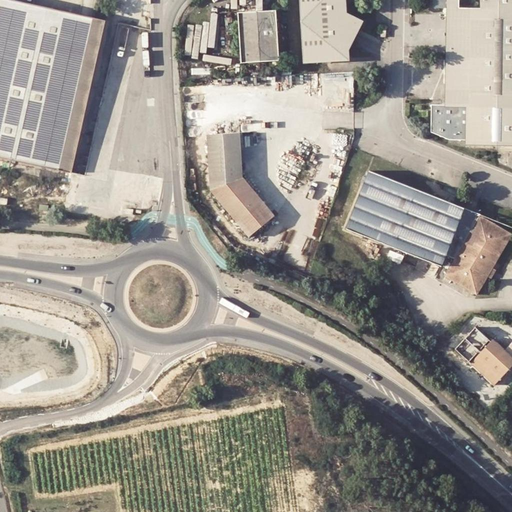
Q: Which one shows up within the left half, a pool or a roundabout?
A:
roundabout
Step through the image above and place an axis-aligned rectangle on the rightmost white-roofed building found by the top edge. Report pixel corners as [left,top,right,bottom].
[445,0,512,146]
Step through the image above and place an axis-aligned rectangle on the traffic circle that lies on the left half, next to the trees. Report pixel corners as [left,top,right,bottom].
[102,238,217,354]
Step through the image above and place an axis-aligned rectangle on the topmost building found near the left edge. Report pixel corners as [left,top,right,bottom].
[0,0,105,172]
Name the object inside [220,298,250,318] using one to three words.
bus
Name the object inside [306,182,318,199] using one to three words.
vehicle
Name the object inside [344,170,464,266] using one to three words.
building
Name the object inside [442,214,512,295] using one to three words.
house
